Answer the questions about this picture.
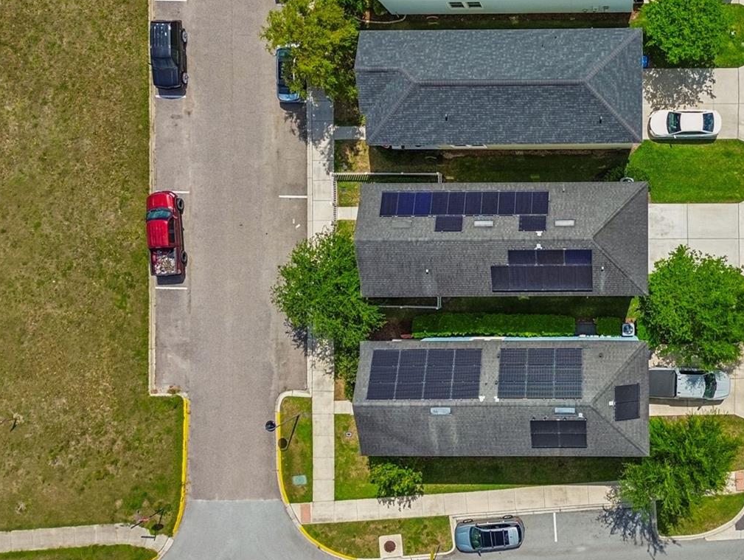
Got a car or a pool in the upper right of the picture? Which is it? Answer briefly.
car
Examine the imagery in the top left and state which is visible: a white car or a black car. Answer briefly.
black car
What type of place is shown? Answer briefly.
residential area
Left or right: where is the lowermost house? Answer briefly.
right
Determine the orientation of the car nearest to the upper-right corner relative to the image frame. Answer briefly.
from left to right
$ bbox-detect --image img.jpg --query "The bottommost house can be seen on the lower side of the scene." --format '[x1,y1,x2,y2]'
[352,335,650,457]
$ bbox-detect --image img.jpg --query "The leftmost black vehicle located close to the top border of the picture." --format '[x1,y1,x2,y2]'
[150,24,190,90]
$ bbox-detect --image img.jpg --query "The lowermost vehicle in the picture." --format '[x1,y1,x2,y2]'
[455,517,525,558]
